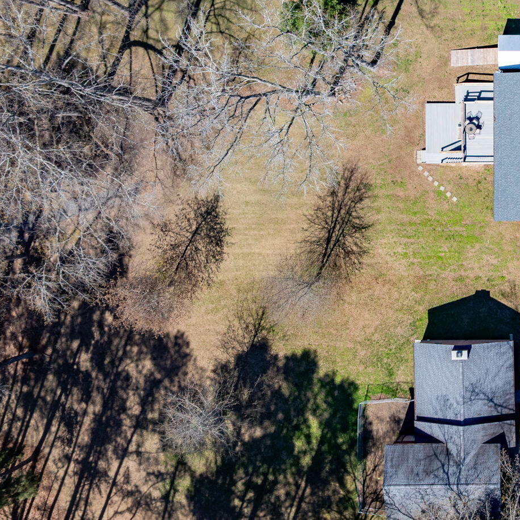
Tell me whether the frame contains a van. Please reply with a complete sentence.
No, this view has no van in it.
